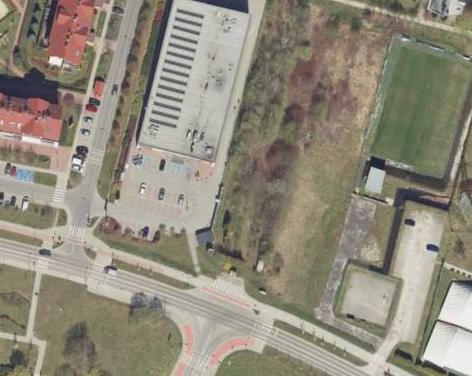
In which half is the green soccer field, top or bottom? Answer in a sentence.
Seen from above, the green soccer field lies in the top half of the view.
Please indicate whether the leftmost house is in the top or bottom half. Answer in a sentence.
You can find the leftmost house in the top half.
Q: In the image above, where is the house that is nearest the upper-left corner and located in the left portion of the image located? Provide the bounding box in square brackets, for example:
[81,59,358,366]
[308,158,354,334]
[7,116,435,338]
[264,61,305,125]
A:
[46,0,99,73]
